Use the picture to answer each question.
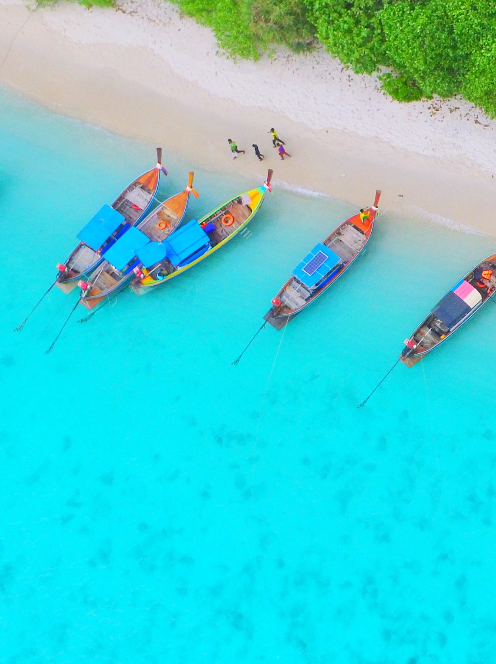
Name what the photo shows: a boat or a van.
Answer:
boat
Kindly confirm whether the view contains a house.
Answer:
No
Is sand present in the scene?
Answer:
Yes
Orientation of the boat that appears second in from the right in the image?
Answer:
at an angle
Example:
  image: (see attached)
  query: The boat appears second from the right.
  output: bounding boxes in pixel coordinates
[230,190,384,367]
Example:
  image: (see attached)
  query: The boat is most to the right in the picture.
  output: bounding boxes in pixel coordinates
[357,253,496,411]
